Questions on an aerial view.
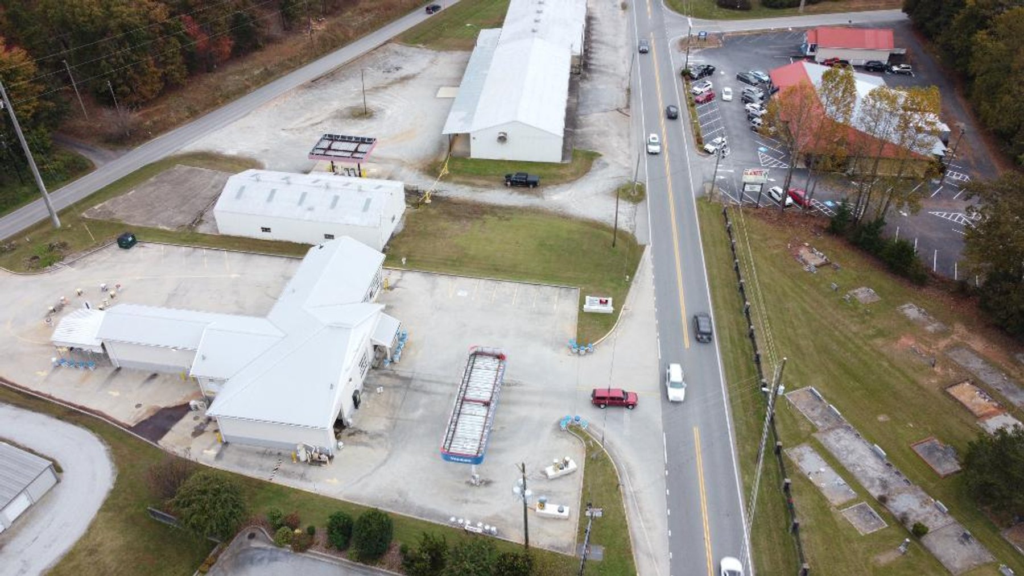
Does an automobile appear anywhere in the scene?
Yes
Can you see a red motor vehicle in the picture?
Yes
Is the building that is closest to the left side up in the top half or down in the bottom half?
bottom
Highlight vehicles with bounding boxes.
[639,39,649,51]
[742,93,763,106]
[690,65,703,76]
[745,103,766,114]
[750,70,768,83]
[506,172,539,186]
[667,107,677,119]
[697,91,714,102]
[890,63,913,74]
[694,314,713,340]
[767,188,794,205]
[722,88,732,100]
[750,117,771,132]
[737,72,757,86]
[697,64,714,77]
[788,189,815,207]
[864,59,888,71]
[592,384,637,407]
[648,136,660,151]
[426,3,442,12]
[742,85,762,98]
[823,57,849,68]
[665,363,687,400]
[705,137,726,151]
[747,111,768,122]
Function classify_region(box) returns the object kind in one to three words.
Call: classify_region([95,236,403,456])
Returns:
building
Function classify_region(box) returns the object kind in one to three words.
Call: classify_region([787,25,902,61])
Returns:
building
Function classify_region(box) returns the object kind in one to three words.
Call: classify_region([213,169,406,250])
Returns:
shed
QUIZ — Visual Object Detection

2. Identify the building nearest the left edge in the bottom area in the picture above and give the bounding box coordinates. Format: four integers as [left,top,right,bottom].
[0,437,59,530]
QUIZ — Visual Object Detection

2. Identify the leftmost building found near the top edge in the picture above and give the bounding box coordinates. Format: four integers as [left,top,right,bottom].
[443,0,587,162]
